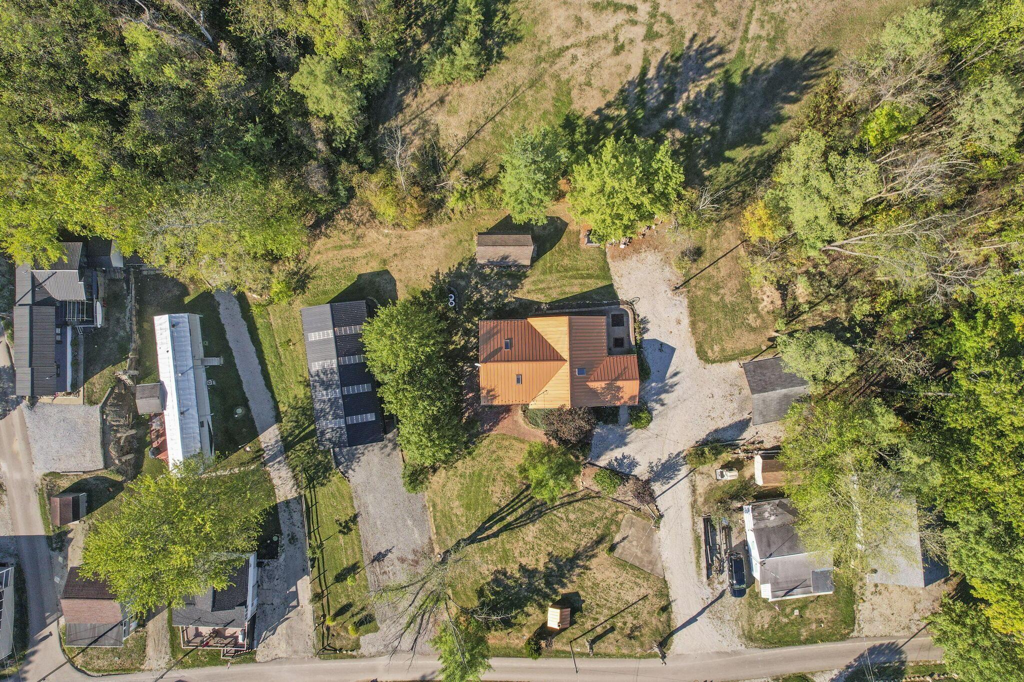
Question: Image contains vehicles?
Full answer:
Yes, a vehicle is visible in the scene.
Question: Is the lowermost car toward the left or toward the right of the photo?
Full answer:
It is on the right.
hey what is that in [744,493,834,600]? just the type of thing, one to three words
house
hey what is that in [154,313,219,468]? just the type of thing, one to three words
house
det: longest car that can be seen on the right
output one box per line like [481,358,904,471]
[725,549,750,598]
